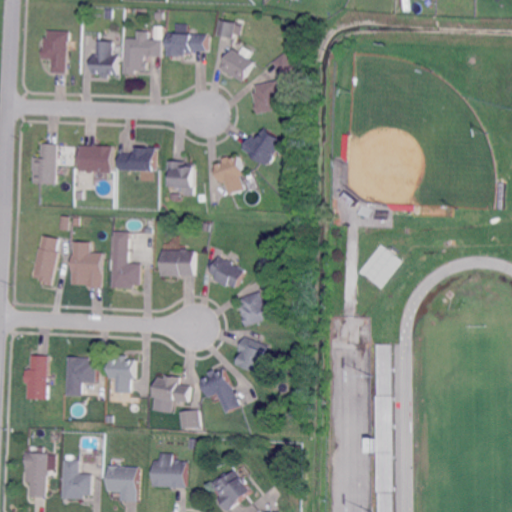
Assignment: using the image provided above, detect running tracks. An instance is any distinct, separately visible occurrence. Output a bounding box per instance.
[400,256,512,512]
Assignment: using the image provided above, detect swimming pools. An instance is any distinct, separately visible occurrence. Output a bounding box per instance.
[242,190,260,206]
[125,218,142,232]
[69,402,86,419]
[82,436,98,450]
[94,180,110,196]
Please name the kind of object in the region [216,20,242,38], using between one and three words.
building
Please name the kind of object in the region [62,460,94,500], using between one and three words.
house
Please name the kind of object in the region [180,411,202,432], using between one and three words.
building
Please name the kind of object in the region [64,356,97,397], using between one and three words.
house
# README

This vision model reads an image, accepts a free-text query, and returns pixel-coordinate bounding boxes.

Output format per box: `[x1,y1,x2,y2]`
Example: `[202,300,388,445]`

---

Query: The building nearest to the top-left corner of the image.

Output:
[40,30,70,73]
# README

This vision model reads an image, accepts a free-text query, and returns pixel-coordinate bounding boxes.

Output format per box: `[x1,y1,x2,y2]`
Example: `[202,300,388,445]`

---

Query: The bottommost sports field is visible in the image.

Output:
[413,269,512,512]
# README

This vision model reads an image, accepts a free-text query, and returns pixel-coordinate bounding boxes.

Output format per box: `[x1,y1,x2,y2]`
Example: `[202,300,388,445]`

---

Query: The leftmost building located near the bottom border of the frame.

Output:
[24,454,50,500]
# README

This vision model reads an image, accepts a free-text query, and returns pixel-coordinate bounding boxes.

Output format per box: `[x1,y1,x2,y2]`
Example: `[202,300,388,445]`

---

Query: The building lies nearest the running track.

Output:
[360,244,405,290]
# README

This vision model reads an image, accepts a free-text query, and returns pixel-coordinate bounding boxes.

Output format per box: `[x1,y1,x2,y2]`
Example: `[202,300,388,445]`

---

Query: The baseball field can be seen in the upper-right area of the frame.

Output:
[348,53,497,218]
